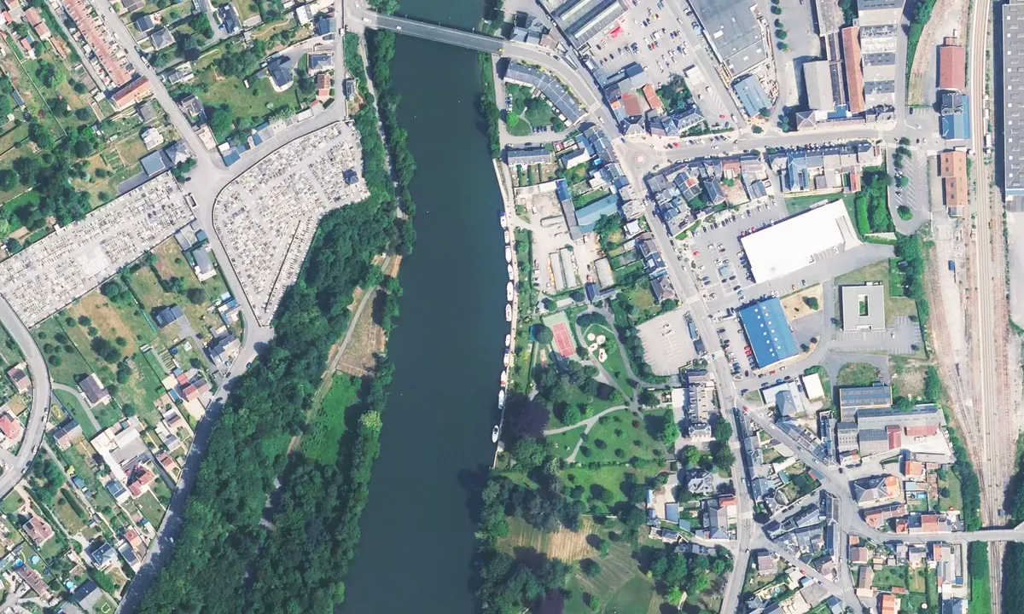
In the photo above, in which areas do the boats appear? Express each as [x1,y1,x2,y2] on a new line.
[504,349,510,366]
[504,230,509,243]
[492,425,499,443]
[505,303,511,320]
[505,334,510,347]
[504,245,512,262]
[500,371,506,388]
[498,390,504,409]
[499,210,506,228]
[506,281,514,301]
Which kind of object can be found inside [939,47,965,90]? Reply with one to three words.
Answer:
building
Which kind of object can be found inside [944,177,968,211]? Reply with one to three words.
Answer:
building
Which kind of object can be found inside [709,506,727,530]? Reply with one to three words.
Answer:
house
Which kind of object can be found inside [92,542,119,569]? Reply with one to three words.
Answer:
house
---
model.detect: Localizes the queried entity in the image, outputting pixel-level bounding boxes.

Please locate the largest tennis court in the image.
[542,312,579,359]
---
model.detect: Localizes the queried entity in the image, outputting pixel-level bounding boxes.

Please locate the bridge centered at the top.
[373,12,507,56]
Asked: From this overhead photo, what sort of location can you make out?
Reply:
residential area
